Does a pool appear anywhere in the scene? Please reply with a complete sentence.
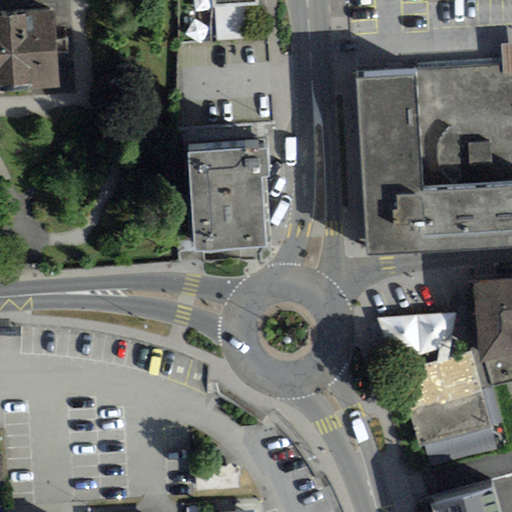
No, I find no pool anywhere in the image.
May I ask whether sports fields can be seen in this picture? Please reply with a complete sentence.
No, I find no sports field anywhere in the image.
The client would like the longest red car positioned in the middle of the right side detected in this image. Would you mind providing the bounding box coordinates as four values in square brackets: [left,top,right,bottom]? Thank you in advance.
[420,284,435,307]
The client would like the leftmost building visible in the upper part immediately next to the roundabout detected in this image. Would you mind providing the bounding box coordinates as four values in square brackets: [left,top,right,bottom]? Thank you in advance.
[188,133,274,252]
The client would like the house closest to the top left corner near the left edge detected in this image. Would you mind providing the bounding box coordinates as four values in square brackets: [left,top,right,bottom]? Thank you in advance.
[0,10,70,92]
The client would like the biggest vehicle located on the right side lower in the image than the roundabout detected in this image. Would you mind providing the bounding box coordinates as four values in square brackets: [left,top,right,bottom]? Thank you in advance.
[348,410,368,444]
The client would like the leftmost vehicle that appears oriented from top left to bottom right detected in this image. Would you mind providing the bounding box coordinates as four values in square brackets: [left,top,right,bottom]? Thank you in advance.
[229,336,252,354]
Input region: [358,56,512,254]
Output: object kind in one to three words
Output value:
building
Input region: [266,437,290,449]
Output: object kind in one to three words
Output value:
vehicle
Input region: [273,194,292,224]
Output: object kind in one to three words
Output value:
vehicle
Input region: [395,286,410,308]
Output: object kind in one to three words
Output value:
car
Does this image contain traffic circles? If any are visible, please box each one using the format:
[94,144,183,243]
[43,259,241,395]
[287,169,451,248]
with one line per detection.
[220,263,356,398]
